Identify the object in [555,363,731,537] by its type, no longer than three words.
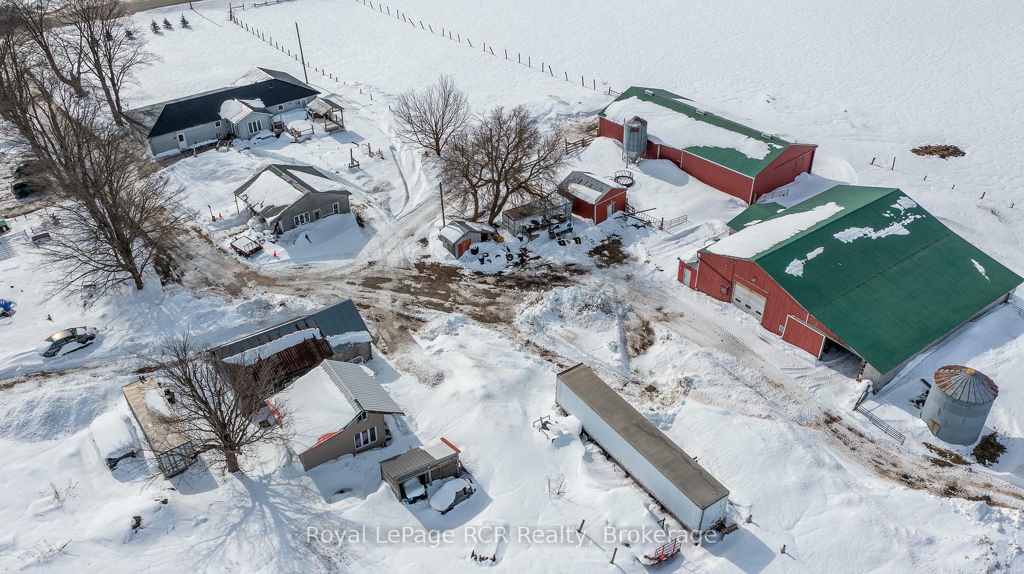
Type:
trailer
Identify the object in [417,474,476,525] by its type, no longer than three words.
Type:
car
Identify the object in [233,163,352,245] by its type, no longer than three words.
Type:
building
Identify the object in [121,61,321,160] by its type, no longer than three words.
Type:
house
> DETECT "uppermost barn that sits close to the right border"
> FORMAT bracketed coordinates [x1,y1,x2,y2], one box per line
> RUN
[695,185,1023,397]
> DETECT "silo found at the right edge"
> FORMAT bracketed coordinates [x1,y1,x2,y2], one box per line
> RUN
[915,362,1000,444]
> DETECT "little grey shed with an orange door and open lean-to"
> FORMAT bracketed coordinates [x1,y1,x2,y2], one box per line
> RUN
[441,220,499,259]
